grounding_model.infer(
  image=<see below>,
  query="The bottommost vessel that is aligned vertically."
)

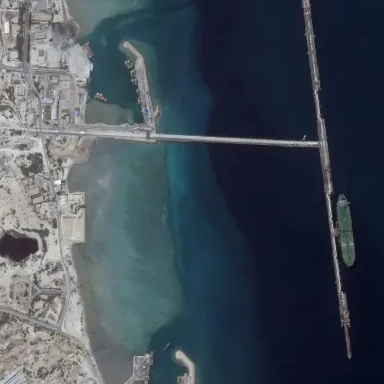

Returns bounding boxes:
[334,194,354,270]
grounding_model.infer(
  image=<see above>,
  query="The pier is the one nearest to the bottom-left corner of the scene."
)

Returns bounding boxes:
[123,355,152,384]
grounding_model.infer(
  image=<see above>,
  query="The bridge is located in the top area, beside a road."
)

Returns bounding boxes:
[43,129,320,147]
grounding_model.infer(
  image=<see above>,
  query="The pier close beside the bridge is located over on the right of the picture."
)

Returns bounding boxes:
[302,0,351,360]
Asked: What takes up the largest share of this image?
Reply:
water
